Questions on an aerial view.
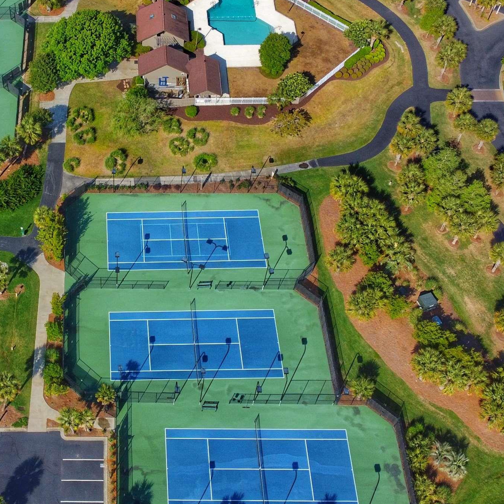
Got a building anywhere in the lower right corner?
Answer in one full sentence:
No, in the lower right corner there is no building.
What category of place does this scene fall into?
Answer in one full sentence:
The picture captures a sports ground.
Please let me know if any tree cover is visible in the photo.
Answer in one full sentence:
Yes, tree cover can be seen from above here.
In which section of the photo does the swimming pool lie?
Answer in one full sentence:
The swimming pool sits in the top section of the image.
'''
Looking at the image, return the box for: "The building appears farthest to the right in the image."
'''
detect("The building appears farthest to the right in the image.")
[189,53,224,104]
